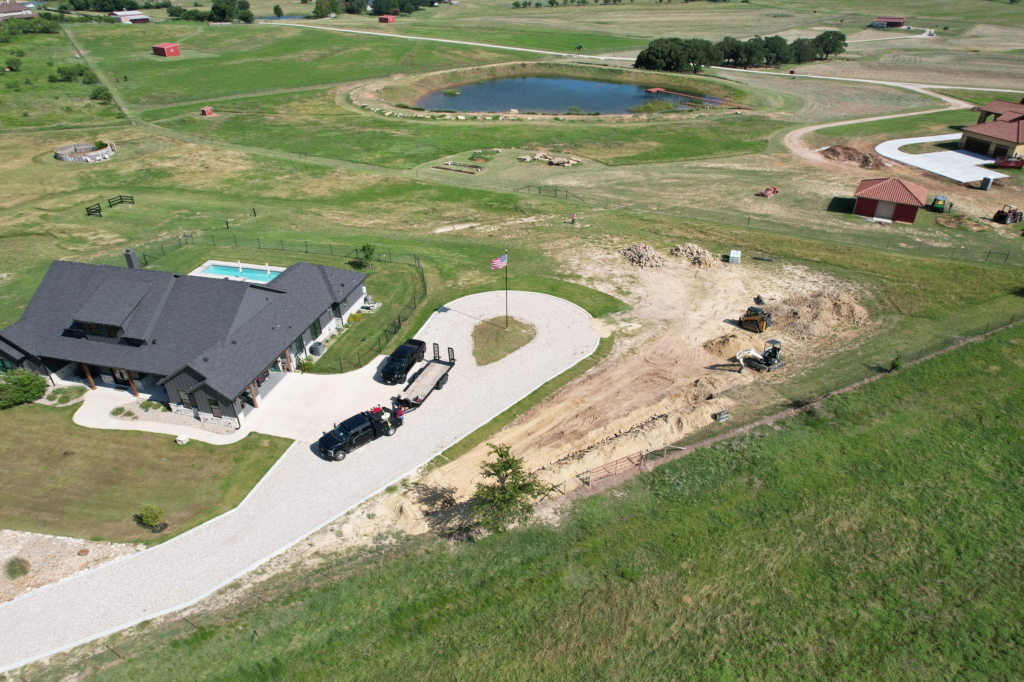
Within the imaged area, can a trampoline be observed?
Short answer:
No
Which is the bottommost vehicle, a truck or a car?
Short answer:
truck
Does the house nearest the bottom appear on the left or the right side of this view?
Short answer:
left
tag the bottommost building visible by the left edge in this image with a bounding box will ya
[0,244,369,431]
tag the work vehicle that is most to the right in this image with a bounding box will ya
[992,203,1024,224]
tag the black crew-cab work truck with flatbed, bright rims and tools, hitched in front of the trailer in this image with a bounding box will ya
[315,405,407,463]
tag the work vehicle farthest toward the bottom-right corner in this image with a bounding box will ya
[736,338,789,375]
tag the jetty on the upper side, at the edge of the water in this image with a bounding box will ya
[640,84,756,110]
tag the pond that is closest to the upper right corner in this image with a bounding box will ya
[421,74,708,113]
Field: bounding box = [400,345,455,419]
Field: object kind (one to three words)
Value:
trailer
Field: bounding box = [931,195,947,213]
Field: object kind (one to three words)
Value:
vehicle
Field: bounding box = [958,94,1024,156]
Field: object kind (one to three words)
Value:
house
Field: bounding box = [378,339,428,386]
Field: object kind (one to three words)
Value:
truck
